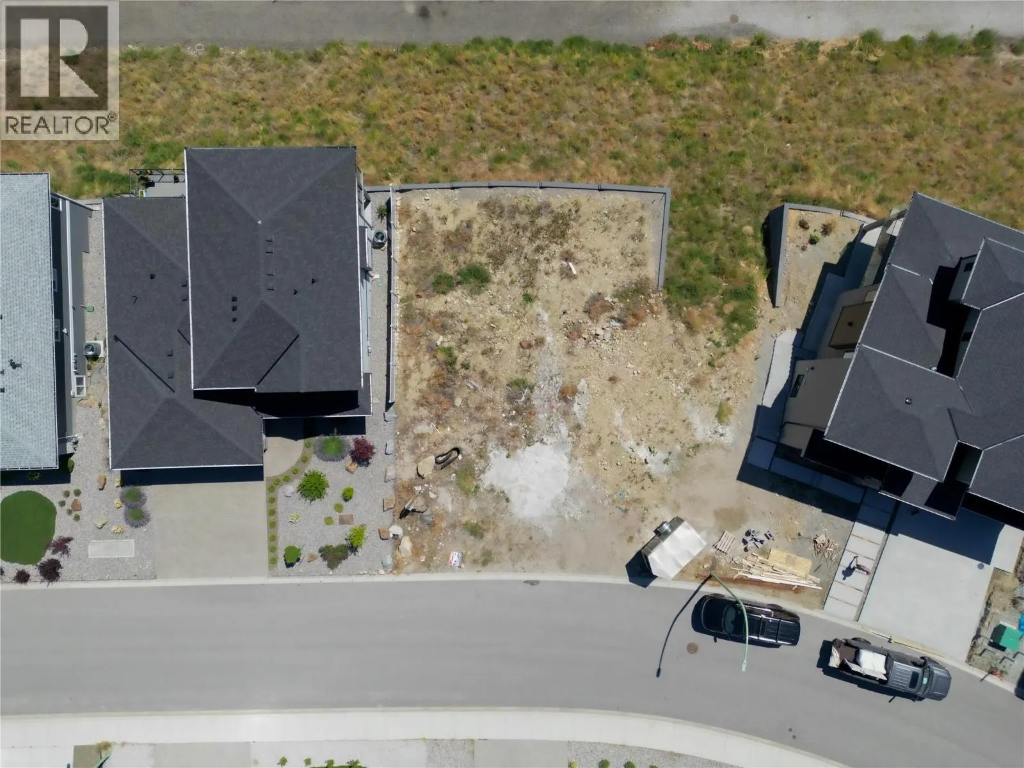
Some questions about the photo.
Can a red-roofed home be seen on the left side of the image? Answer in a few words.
No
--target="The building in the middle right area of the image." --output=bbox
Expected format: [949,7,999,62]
[777,191,1024,520]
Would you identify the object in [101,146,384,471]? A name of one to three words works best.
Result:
house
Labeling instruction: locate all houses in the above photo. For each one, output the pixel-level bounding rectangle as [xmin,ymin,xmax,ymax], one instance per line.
[0,172,87,473]
[777,191,1024,520]
[101,146,384,471]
